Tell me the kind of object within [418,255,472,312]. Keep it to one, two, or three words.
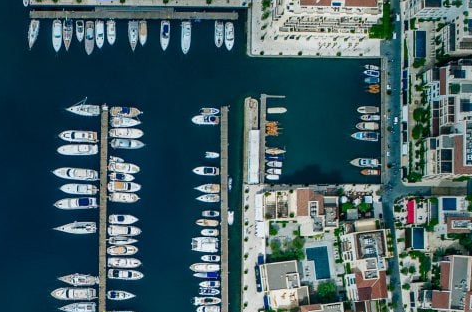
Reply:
house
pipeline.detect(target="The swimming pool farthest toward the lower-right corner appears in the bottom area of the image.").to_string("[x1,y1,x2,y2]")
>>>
[412,227,425,250]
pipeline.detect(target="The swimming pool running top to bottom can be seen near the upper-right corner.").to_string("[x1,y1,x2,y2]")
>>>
[415,30,427,58]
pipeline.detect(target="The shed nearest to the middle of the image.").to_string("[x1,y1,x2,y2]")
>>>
[246,128,259,185]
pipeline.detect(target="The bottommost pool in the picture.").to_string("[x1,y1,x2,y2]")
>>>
[304,244,332,282]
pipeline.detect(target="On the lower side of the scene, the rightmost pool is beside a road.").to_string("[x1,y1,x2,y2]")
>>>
[441,196,458,212]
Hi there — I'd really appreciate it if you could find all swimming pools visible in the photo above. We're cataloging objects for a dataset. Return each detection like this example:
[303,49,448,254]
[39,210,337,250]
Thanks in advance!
[412,227,425,250]
[304,244,332,282]
[441,196,458,212]
[415,30,427,58]
[425,0,441,7]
